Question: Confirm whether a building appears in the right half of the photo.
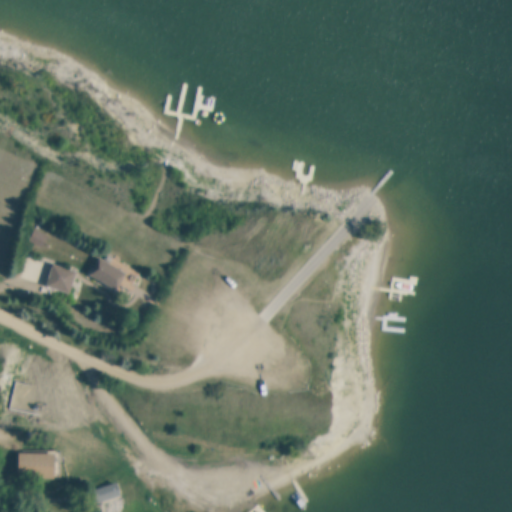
No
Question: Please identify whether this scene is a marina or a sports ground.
marina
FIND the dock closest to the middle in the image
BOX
[292,160,316,195]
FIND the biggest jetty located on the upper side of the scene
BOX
[164,84,215,142]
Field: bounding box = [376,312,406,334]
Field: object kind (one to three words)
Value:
pier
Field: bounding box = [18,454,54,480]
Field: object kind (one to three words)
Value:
house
